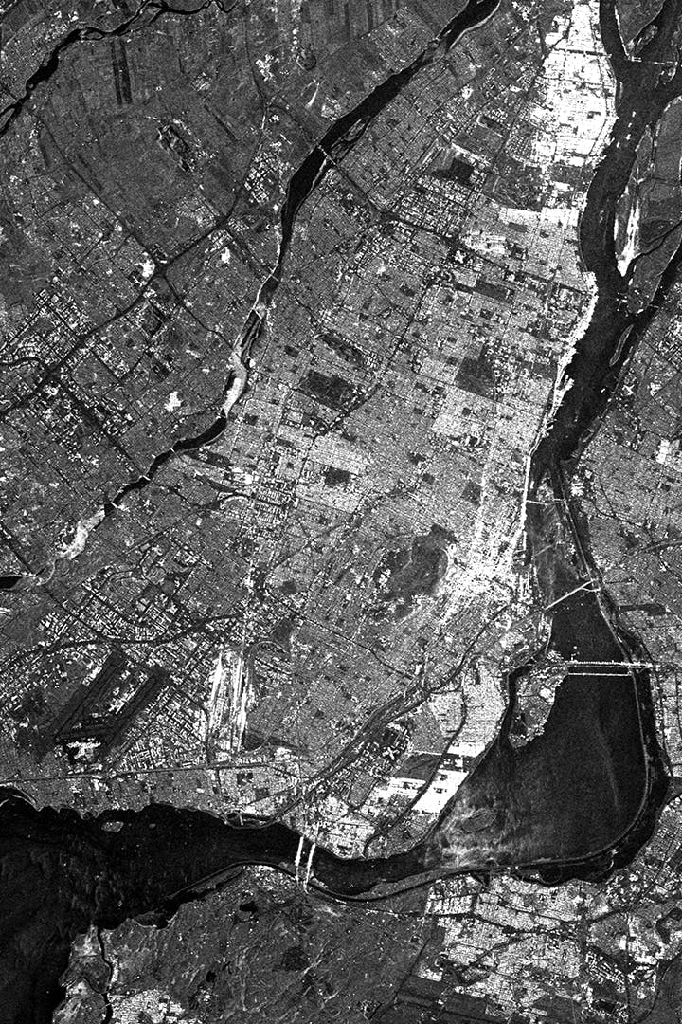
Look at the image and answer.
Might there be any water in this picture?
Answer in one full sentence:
Yes, there's water in this view.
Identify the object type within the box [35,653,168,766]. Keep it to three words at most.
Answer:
airport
